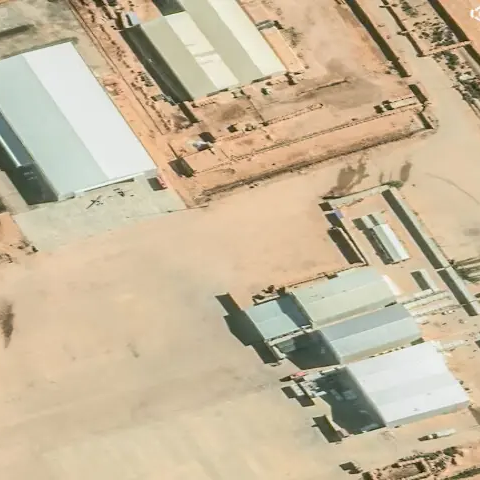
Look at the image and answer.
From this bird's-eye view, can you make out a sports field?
No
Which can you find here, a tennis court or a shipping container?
shipping container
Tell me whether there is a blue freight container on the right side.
No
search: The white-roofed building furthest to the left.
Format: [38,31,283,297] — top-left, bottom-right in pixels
[0,41,157,200]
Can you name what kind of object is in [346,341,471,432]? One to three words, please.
shed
